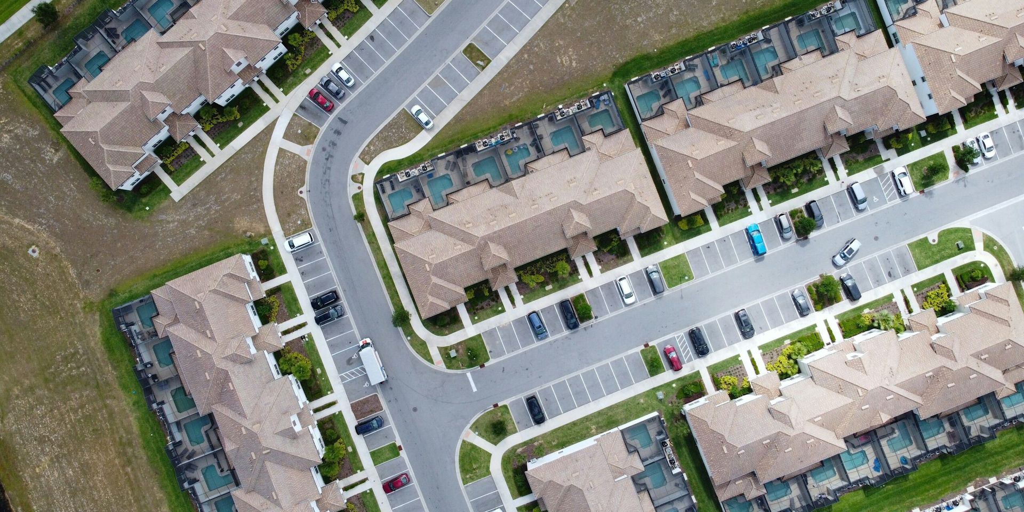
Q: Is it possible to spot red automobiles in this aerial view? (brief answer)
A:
Yes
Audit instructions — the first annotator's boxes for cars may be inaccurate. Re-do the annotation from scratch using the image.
[775,213,794,239]
[382,474,411,492]
[311,291,340,310]
[560,299,580,330]
[804,199,824,229]
[734,309,754,339]
[331,61,355,89]
[314,306,345,326]
[616,276,635,304]
[893,167,916,196]
[664,344,683,372]
[320,75,346,101]
[646,265,666,295]
[284,232,315,252]
[847,181,868,211]
[308,87,335,113]
[962,136,983,165]
[975,131,996,161]
[839,273,863,303]
[411,104,434,131]
[832,238,861,265]
[526,395,545,425]
[528,311,547,339]
[791,288,811,317]
[689,326,709,357]
[354,415,385,435]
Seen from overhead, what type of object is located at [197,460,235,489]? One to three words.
swimming pool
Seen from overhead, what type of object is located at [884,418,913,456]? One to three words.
swimming pool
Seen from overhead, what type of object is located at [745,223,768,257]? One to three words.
vehicle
